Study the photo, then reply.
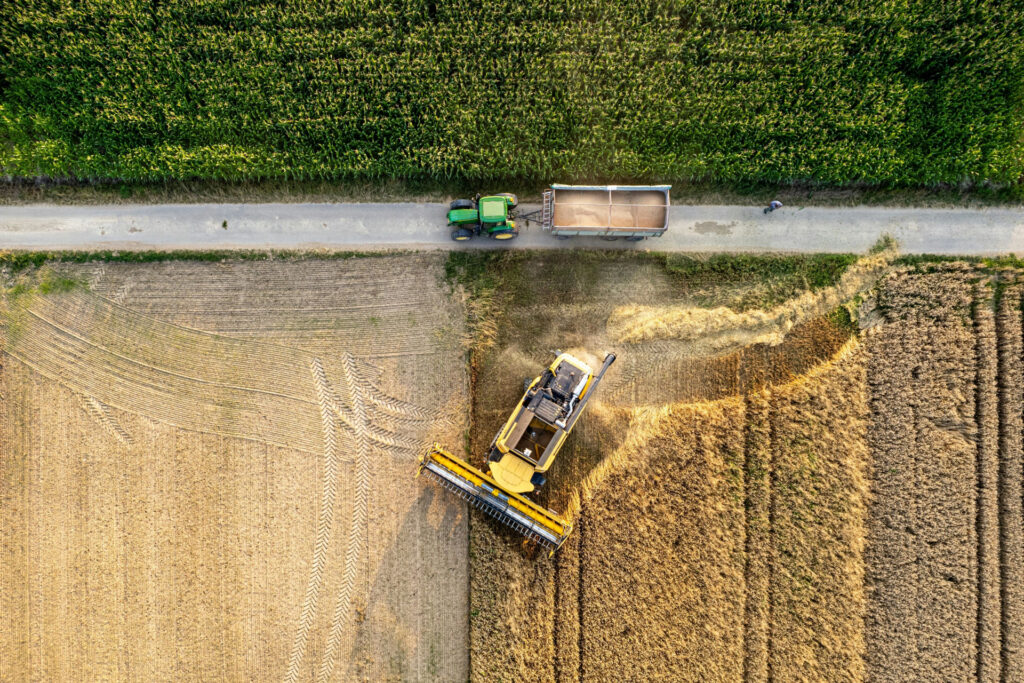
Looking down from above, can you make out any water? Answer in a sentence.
No, no water is visible.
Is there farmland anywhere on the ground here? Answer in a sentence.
Yes, the picture does contain farmland.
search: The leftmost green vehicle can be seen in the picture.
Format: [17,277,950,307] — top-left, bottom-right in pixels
[446,193,523,239]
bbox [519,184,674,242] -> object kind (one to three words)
trailer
